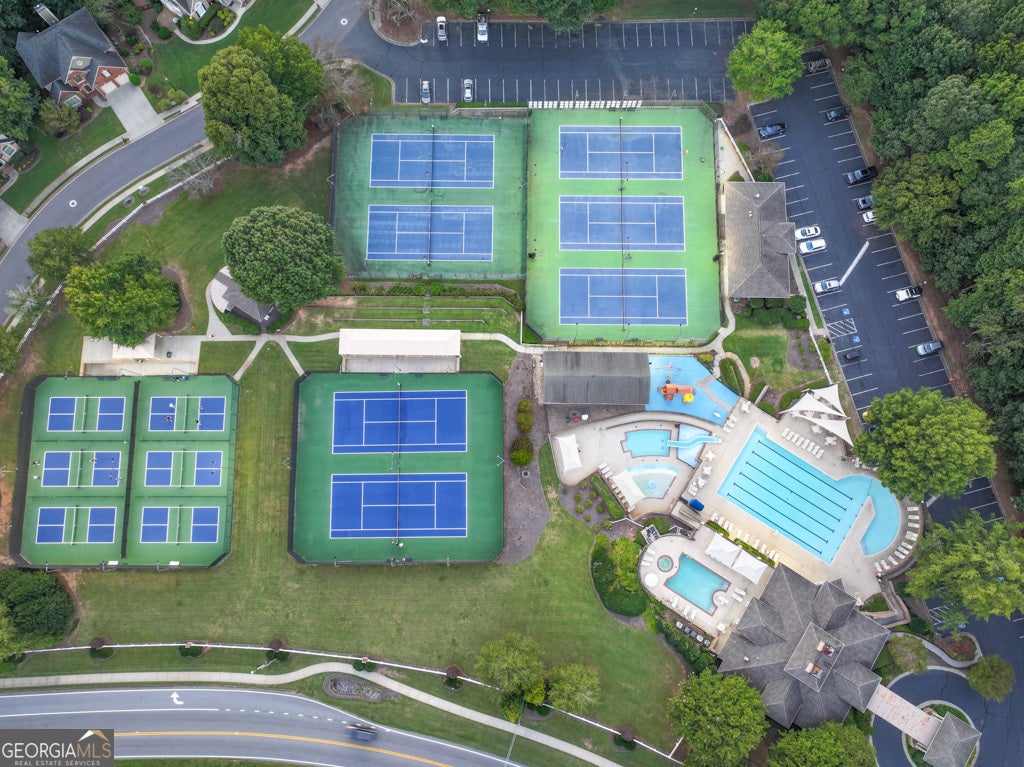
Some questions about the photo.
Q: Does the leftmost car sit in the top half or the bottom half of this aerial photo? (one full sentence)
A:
The leftmost car is in the bottom half of the image.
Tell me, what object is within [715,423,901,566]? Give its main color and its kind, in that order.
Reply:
blue swimming pool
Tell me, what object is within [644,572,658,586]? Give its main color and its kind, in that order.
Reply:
white umbrella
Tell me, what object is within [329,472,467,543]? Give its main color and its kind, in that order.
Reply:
blue tennis court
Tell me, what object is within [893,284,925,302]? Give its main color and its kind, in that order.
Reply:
white vehicle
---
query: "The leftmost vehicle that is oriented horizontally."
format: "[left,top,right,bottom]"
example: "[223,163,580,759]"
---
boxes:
[344,724,380,744]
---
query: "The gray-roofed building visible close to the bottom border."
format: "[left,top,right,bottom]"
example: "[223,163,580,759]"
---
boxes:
[717,562,891,730]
